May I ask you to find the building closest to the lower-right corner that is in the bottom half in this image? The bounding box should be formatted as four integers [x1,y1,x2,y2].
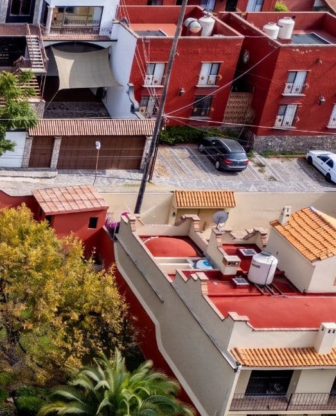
[110,189,336,416]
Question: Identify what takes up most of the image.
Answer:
buildings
